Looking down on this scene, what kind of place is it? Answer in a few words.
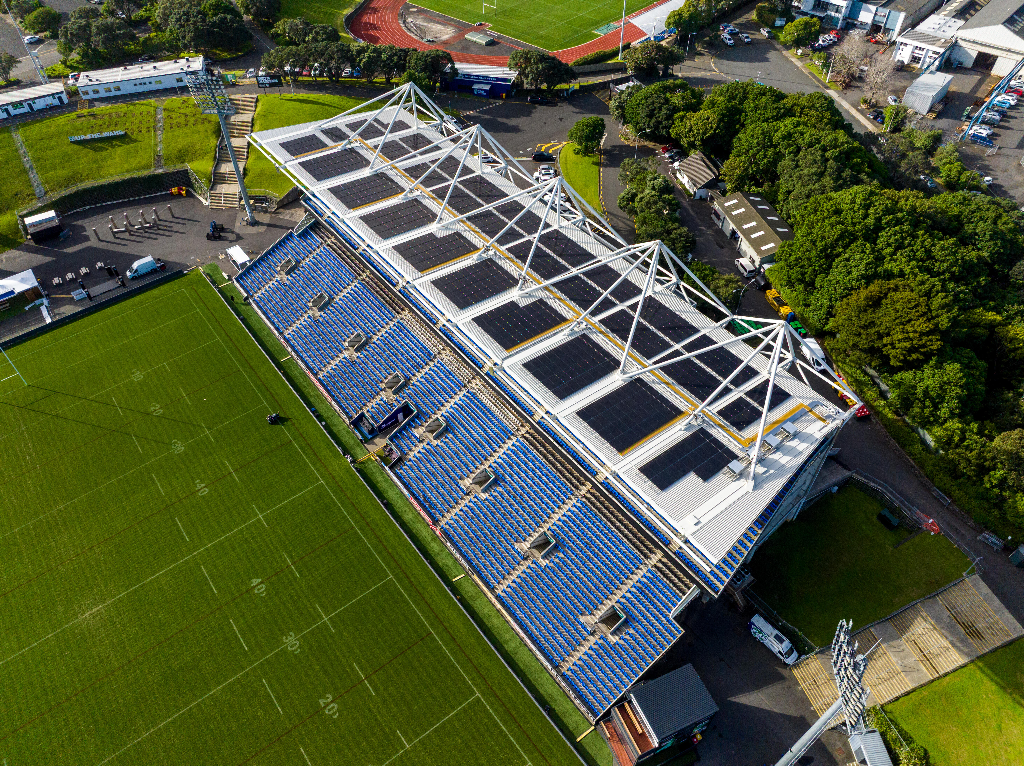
sports ground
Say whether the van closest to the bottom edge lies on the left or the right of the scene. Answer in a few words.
right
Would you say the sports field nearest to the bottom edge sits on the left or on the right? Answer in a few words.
left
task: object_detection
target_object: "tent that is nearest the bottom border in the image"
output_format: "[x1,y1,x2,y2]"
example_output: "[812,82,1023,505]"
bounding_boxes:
[0,269,45,305]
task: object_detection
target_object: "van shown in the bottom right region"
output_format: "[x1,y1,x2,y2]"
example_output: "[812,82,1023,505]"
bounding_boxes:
[742,611,799,665]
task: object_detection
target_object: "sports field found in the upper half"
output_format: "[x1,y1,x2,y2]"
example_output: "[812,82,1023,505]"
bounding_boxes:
[408,0,663,50]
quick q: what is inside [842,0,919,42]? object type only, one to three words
building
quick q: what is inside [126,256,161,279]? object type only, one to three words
vehicle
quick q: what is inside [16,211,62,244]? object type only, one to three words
shed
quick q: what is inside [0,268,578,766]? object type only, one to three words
sports field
